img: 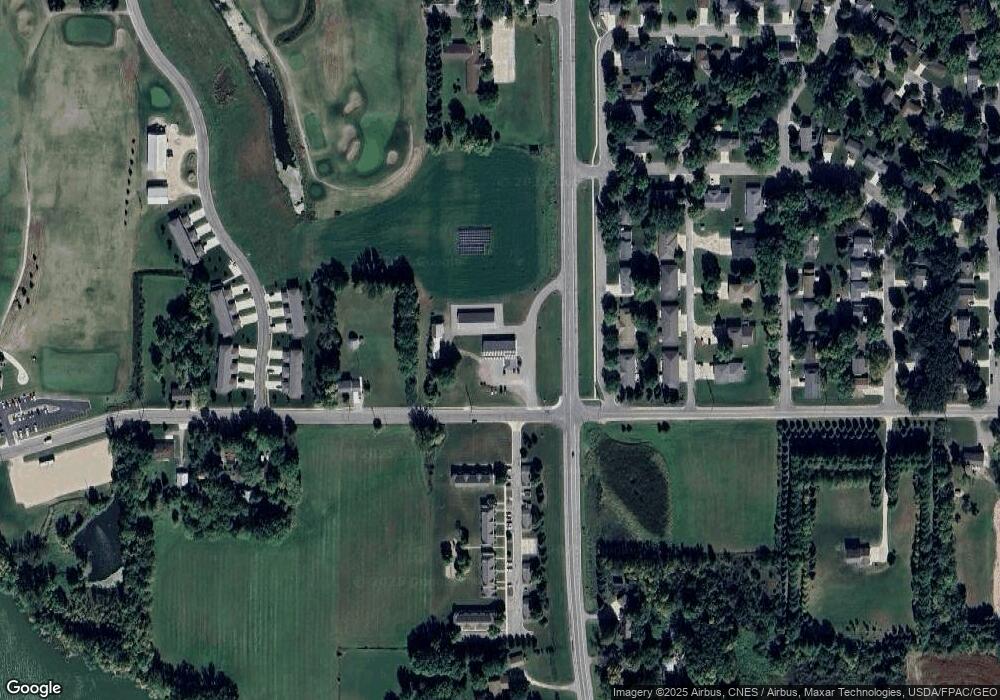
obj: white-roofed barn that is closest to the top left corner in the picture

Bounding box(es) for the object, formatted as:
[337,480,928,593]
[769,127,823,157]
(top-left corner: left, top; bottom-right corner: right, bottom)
[147,132,167,172]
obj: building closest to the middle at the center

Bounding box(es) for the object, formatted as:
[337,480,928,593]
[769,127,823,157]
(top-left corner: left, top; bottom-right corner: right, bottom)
[482,338,515,350]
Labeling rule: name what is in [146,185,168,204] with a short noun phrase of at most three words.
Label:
barn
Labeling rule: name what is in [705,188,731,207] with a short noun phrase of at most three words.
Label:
house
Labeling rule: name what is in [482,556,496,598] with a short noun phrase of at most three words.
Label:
building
